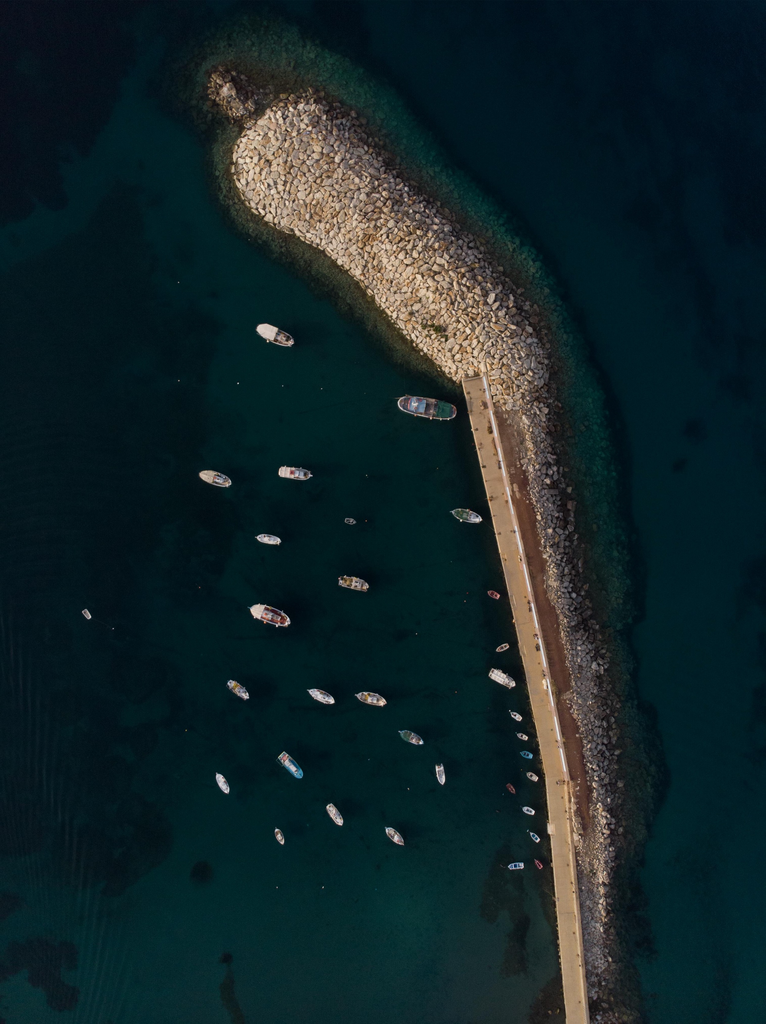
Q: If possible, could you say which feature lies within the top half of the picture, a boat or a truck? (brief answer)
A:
boat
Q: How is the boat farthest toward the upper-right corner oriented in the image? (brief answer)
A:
from left to right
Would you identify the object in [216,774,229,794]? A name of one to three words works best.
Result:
boat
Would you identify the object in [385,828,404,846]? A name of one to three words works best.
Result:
boat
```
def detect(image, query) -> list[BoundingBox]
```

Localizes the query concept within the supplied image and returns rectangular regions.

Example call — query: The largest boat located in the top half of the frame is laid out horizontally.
[398,395,457,417]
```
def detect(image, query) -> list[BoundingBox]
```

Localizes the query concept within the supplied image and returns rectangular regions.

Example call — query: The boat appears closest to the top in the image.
[255,324,294,345]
